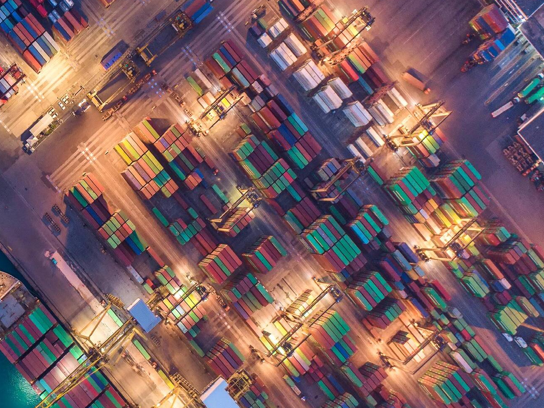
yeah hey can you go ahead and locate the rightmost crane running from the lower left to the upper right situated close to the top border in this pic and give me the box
[307,9,375,63]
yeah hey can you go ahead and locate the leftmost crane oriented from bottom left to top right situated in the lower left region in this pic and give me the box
[29,287,172,408]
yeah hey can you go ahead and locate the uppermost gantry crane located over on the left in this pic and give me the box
[129,17,188,69]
